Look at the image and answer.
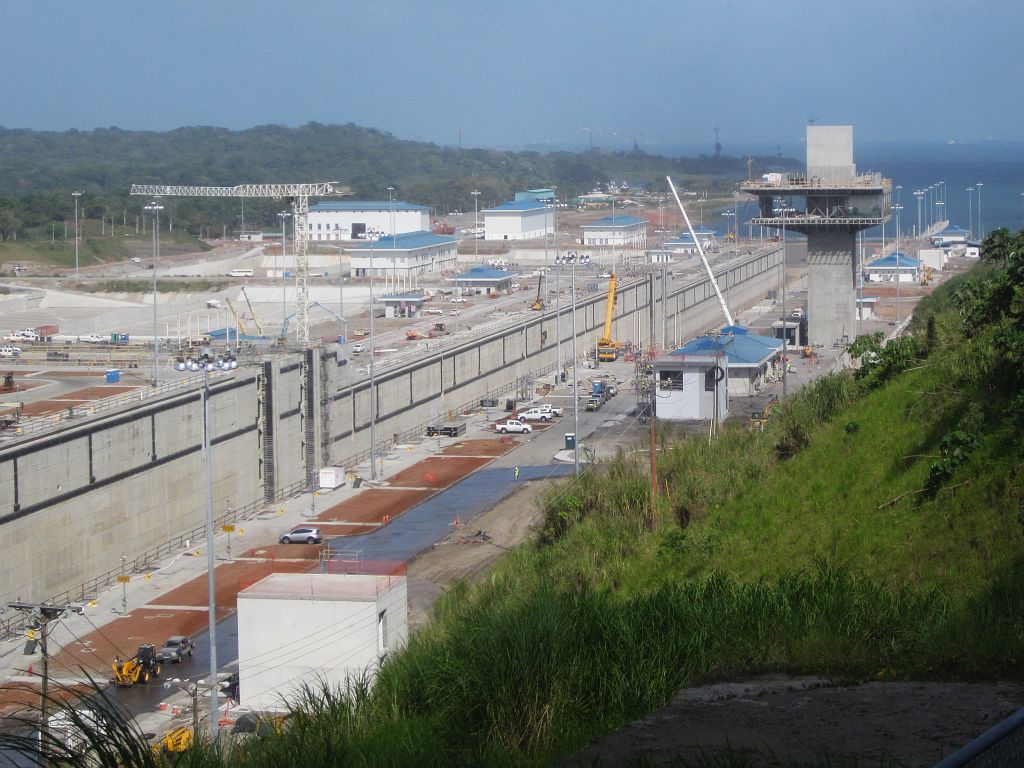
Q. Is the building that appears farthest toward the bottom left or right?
left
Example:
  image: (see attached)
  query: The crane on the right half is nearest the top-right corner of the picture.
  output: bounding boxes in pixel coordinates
[666,175,732,331]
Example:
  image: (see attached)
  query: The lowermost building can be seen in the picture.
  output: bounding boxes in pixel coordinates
[222,576,408,715]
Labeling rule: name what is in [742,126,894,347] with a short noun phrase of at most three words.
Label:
building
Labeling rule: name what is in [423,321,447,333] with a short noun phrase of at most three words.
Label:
vehicle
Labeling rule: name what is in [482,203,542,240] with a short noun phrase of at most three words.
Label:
building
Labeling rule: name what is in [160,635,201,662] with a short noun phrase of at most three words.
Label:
truck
